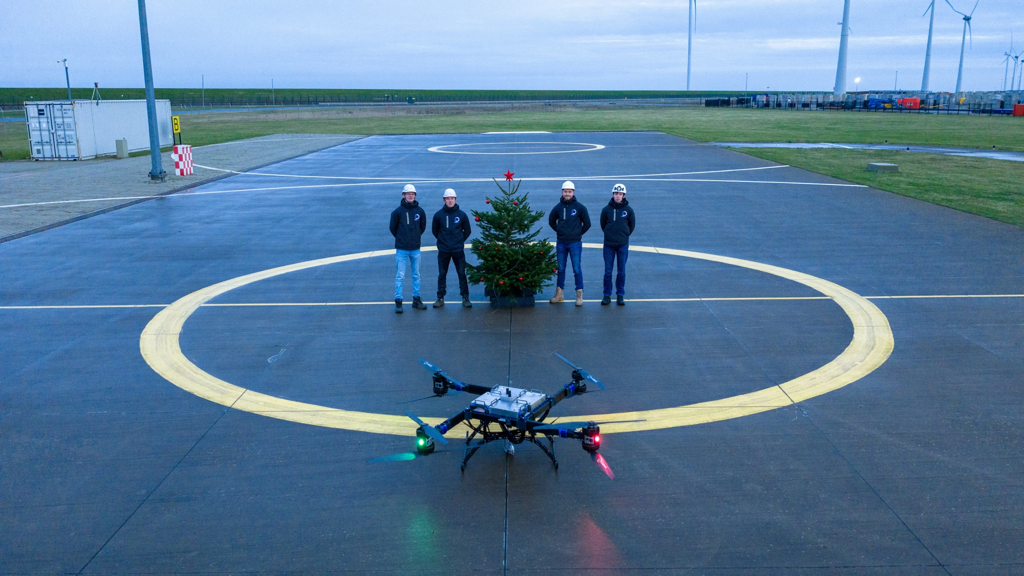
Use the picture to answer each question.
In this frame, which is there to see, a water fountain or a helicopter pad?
helicopter pad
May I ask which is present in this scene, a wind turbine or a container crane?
wind turbine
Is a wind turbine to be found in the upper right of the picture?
Yes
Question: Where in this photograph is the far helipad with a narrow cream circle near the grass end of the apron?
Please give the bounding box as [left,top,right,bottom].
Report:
[161,132,791,179]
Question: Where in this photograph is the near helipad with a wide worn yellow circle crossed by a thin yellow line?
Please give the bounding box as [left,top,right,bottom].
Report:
[0,179,1024,437]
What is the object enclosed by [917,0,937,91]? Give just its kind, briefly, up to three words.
wind turbine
